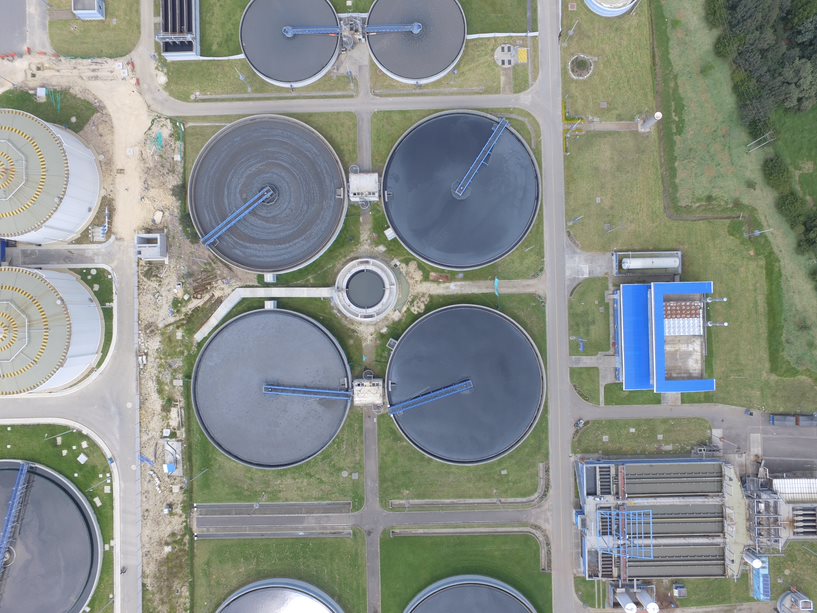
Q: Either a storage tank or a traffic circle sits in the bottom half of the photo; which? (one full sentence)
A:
There is a storage tank in the bottom half of the photo.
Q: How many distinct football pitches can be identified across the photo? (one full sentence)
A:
There are no football pitches in this view.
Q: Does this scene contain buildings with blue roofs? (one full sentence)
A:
Yes, the picture does show a building with a blue roof.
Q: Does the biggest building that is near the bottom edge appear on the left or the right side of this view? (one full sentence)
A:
The biggest building that is near the bottom edge sits on the right side.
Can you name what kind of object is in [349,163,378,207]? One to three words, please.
building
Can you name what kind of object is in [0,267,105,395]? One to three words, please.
storage tank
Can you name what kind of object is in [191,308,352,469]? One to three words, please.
storage tank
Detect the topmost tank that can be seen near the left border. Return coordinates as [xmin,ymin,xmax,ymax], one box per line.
[0,107,104,246]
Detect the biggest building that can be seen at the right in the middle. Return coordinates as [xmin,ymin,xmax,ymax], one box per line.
[609,281,716,393]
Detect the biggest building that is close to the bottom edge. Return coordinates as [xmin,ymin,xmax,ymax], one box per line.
[751,552,772,602]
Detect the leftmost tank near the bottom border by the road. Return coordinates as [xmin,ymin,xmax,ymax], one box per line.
[0,460,105,613]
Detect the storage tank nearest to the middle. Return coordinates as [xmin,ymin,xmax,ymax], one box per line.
[335,259,397,320]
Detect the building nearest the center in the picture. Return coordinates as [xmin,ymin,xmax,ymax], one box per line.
[353,371,383,413]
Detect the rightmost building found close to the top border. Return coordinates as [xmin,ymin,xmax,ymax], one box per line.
[340,15,369,54]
